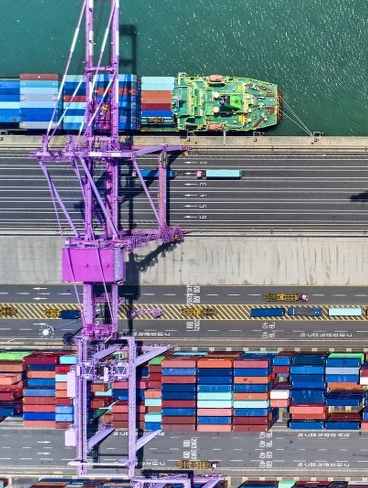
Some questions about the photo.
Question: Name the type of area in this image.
port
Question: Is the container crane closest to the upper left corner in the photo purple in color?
Yes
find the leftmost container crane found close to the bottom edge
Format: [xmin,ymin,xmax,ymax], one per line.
[66,336,177,477]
